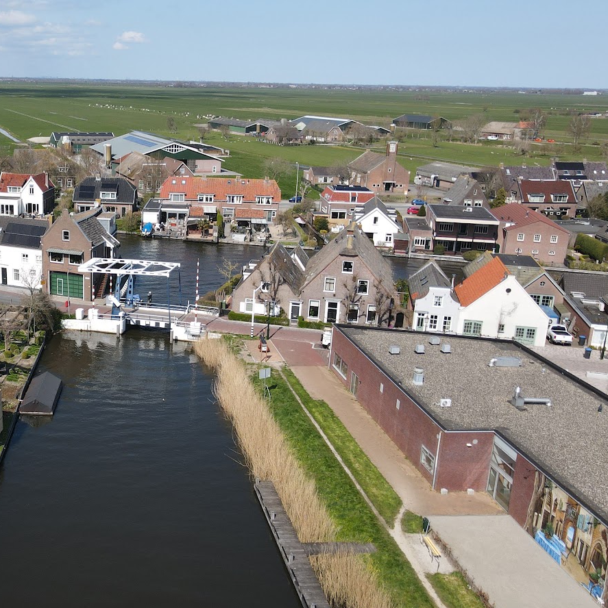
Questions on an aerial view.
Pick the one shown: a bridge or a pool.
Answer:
bridge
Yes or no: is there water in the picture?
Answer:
Yes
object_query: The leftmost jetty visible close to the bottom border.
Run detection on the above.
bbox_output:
[253,478,334,608]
